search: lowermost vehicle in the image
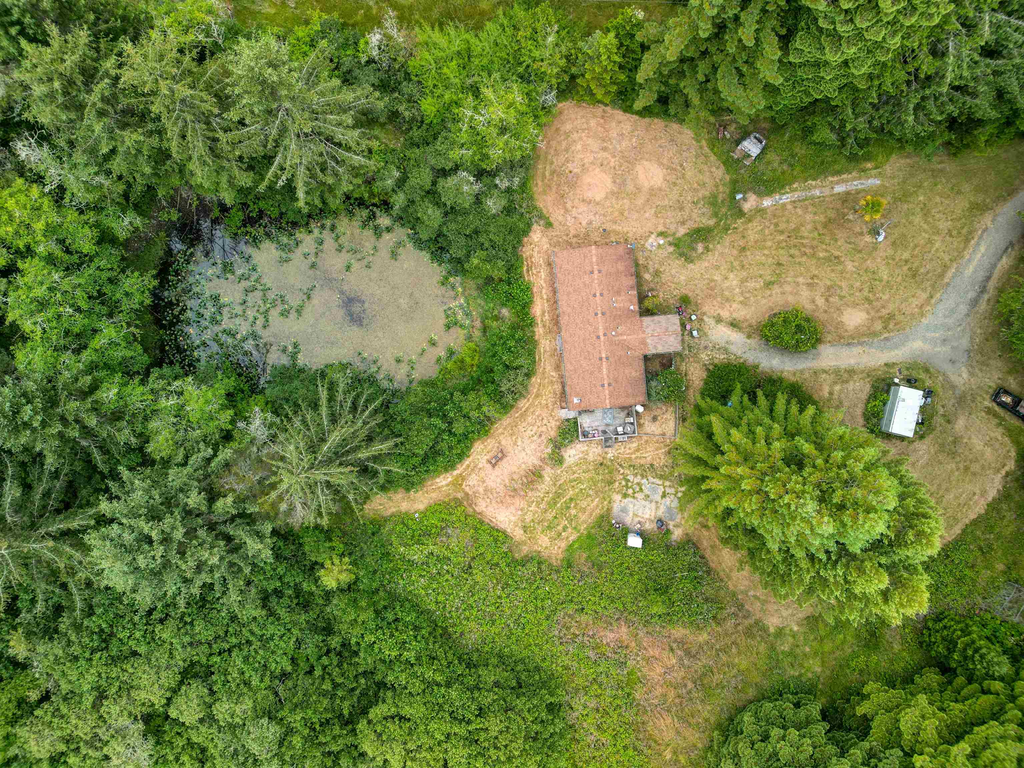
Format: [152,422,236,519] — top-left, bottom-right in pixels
[990,387,1024,419]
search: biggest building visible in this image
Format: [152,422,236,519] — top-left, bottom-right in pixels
[552,243,681,413]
